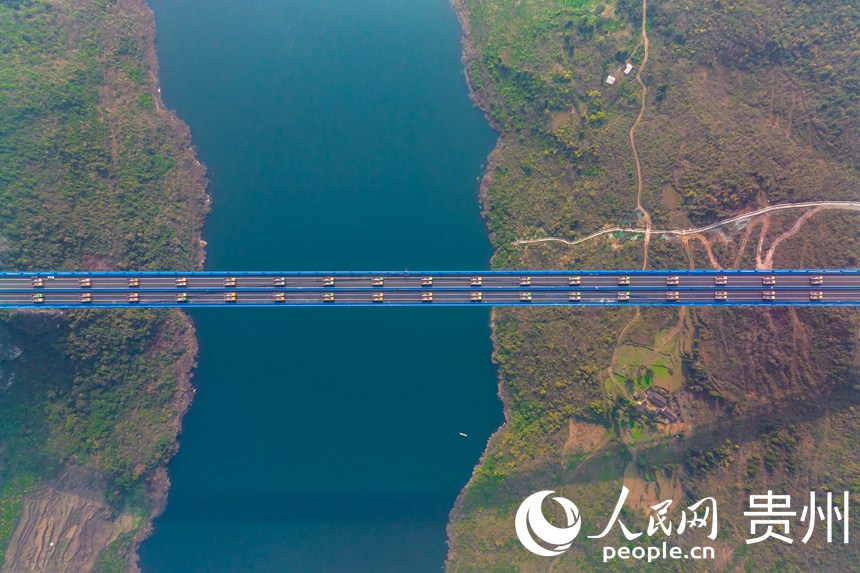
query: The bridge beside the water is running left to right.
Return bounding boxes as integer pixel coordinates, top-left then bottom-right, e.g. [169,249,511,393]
[0,267,860,310]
